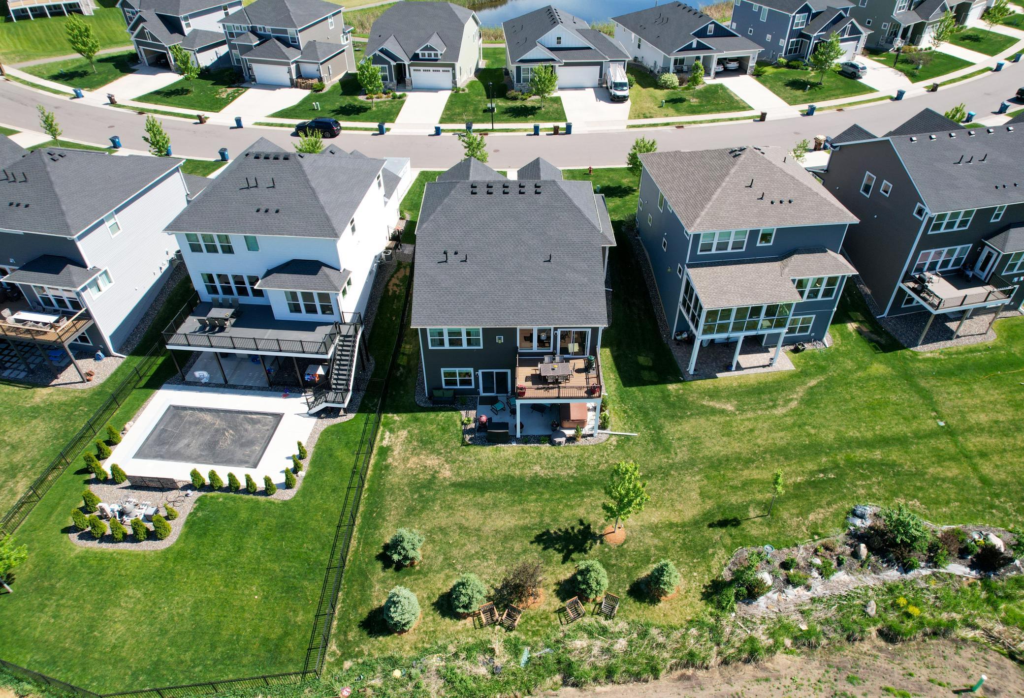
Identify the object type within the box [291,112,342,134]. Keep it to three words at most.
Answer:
car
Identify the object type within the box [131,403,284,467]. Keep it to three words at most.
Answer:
swimming pool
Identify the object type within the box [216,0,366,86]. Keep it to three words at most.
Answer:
house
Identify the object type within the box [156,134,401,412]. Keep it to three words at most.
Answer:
house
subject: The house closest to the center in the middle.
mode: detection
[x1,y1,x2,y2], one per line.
[410,148,637,436]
